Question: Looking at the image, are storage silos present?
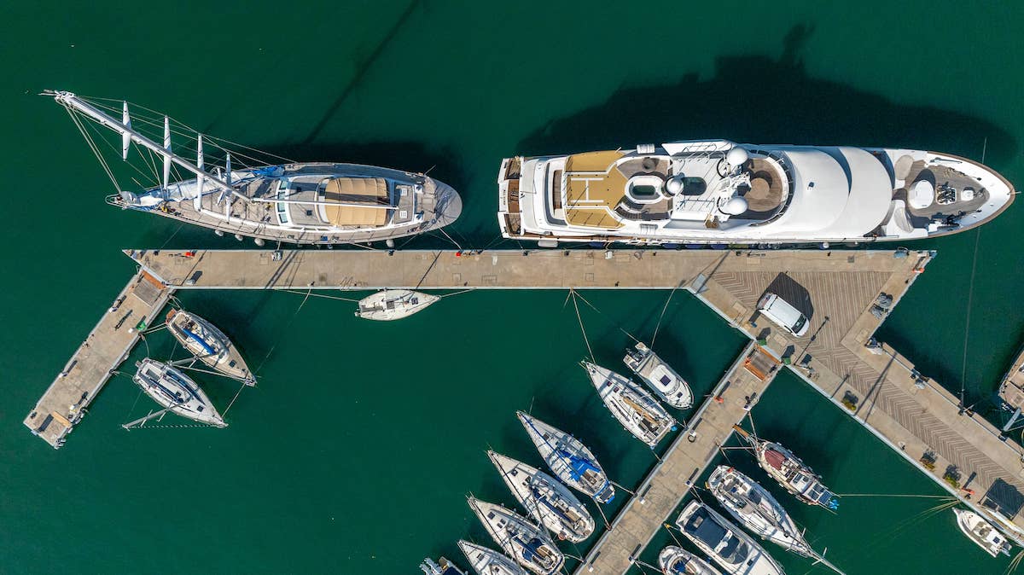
No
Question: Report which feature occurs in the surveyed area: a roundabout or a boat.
boat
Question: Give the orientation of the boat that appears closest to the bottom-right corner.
at an angle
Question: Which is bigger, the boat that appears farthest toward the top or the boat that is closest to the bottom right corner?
the boat that appears farthest toward the top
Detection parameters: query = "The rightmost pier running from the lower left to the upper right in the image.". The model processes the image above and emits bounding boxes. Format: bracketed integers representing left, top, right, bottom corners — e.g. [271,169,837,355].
[566,339,784,575]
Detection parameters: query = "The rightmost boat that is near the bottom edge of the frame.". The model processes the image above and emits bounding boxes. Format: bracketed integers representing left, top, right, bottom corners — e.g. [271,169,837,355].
[950,508,1012,559]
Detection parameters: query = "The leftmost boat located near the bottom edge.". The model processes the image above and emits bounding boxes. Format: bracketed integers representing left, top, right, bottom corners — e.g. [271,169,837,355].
[424,550,471,575]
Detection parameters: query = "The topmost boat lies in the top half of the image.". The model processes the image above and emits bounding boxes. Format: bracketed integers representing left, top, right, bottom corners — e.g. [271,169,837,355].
[27,84,484,253]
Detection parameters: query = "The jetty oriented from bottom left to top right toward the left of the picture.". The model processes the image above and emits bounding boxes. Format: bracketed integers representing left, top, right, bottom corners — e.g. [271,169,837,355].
[23,271,177,448]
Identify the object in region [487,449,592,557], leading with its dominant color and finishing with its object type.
white boat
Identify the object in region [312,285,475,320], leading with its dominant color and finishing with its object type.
white boat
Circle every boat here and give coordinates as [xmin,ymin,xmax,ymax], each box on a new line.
[142,298,280,418]
[424,550,471,575]
[666,484,782,575]
[619,289,696,409]
[487,449,592,557]
[114,334,230,428]
[572,290,685,461]
[515,396,635,526]
[27,84,484,253]
[456,539,534,575]
[466,127,1020,407]
[635,546,717,575]
[950,508,1012,559]
[312,285,475,320]
[694,466,863,575]
[467,497,584,575]
[720,417,956,521]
